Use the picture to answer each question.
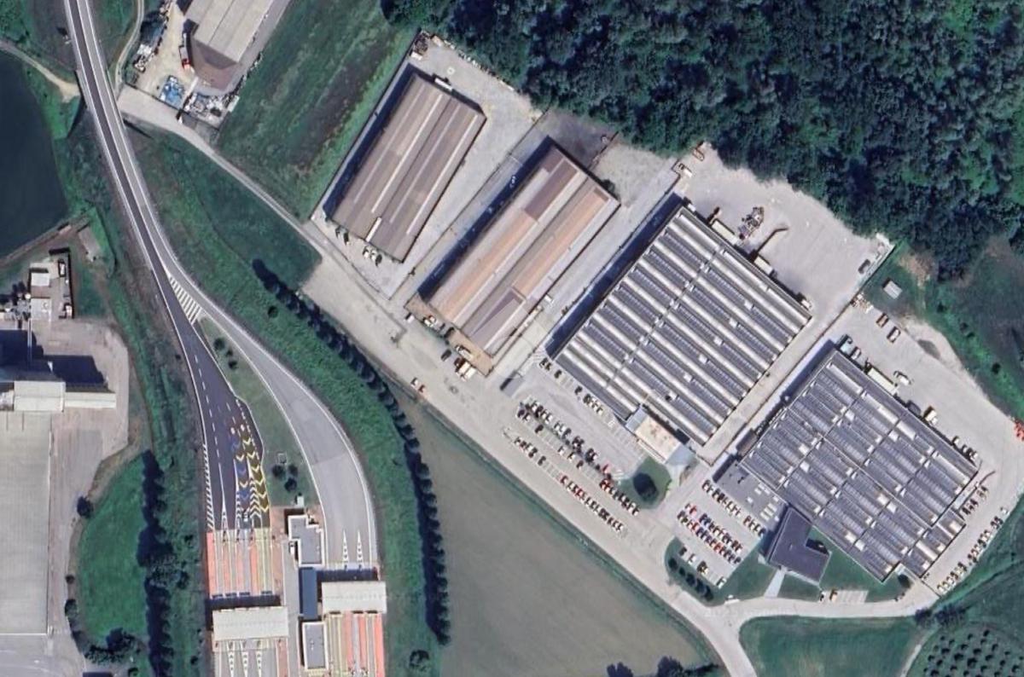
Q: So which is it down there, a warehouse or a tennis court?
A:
warehouse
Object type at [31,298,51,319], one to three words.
shed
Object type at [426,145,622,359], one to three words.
warehouse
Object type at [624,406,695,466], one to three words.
building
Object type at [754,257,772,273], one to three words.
vehicle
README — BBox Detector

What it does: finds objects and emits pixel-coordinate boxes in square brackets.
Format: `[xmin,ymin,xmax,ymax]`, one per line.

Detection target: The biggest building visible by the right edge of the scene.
[739,349,977,582]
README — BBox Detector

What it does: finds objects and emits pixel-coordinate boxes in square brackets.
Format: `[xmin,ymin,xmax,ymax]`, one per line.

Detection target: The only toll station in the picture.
[207,511,387,677]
